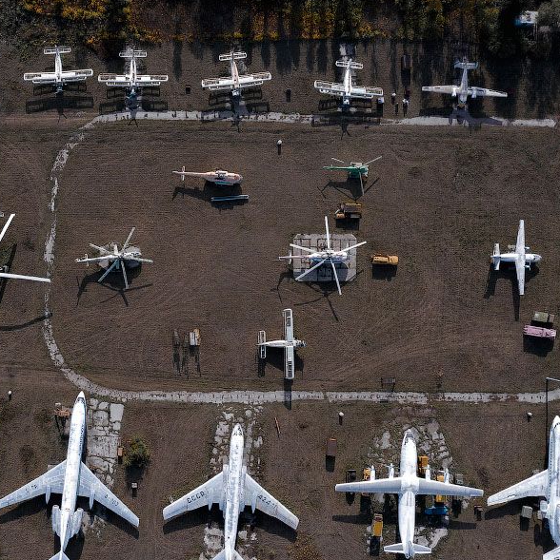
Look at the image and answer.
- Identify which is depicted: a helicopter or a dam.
helicopter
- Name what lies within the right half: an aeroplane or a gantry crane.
aeroplane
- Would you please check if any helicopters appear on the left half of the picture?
Yes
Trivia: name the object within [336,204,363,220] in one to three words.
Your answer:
work vehicle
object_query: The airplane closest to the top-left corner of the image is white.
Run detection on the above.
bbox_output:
[22,47,92,91]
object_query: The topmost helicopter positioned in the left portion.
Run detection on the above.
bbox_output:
[171,167,242,185]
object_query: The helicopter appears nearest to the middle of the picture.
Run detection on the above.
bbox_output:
[277,216,368,295]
